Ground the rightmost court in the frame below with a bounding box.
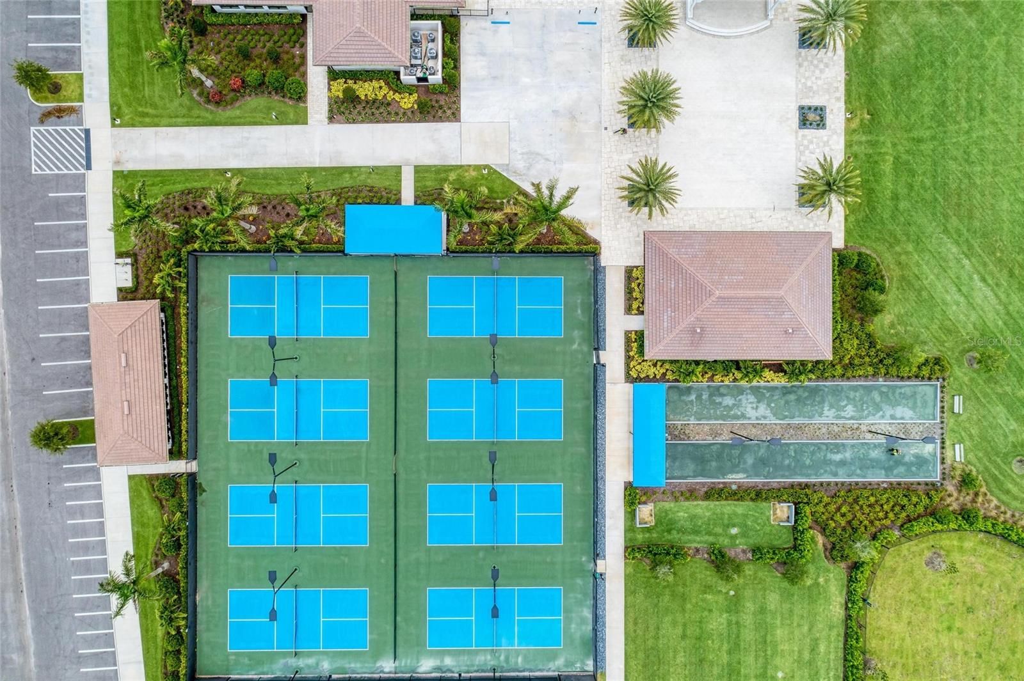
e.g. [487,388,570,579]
[634,382,941,482]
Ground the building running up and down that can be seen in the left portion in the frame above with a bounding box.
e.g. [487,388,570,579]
[88,299,175,468]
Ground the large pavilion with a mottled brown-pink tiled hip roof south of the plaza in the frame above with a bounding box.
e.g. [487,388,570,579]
[643,231,834,363]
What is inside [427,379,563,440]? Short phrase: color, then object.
blue sports court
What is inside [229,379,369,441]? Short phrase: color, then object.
blue sports court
